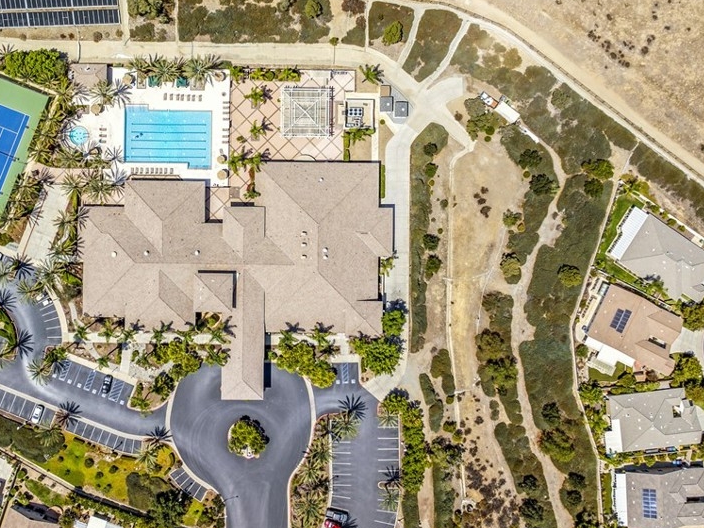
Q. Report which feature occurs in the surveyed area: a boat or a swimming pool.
swimming pool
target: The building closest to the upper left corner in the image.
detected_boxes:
[70,62,107,85]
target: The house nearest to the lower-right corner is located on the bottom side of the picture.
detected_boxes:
[610,465,704,528]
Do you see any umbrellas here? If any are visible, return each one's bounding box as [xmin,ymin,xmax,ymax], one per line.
[214,71,225,82]
[217,168,229,180]
[217,154,226,164]
[91,103,102,115]
[123,74,133,84]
